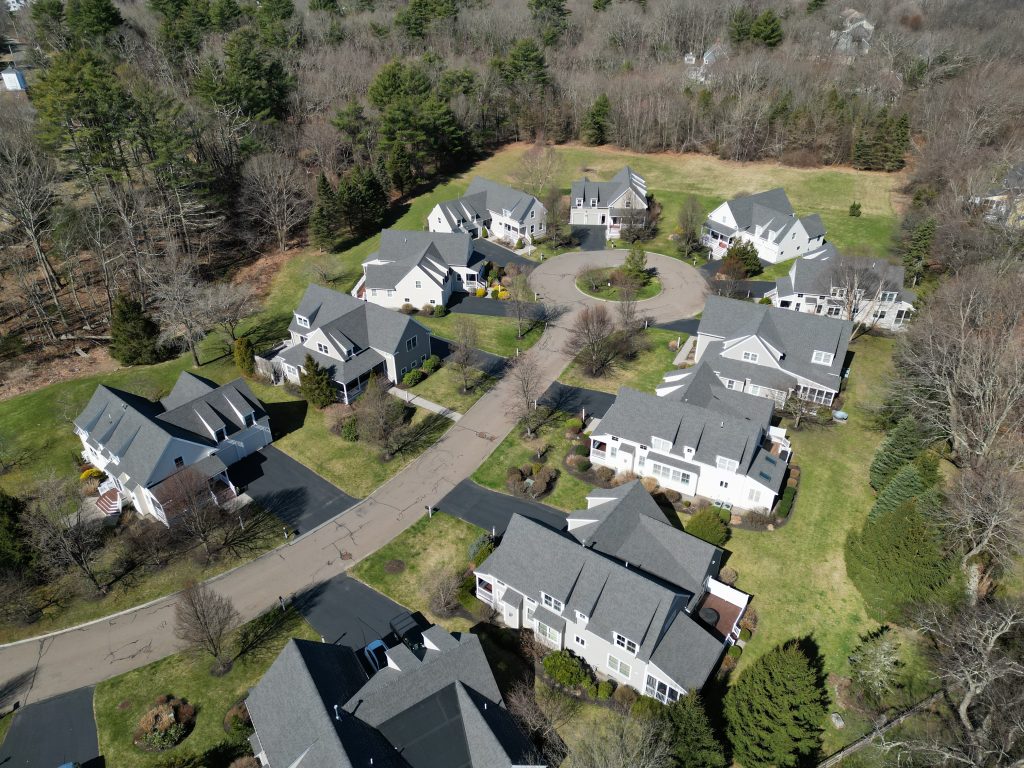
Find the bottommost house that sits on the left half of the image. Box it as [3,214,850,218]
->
[245,630,556,768]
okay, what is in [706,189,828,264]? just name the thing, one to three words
house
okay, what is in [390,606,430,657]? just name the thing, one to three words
car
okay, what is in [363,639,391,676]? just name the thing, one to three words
car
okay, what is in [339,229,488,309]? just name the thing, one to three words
house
